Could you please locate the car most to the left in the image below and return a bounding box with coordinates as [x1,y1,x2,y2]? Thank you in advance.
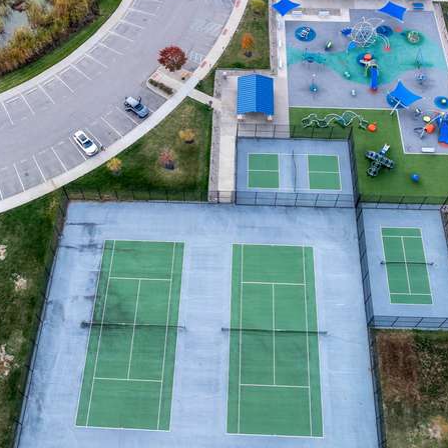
[74,130,100,158]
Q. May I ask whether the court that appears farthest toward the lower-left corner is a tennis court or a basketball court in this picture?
tennis court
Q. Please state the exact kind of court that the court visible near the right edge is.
tennis court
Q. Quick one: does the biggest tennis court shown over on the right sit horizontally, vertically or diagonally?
vertically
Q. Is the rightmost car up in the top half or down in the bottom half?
top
